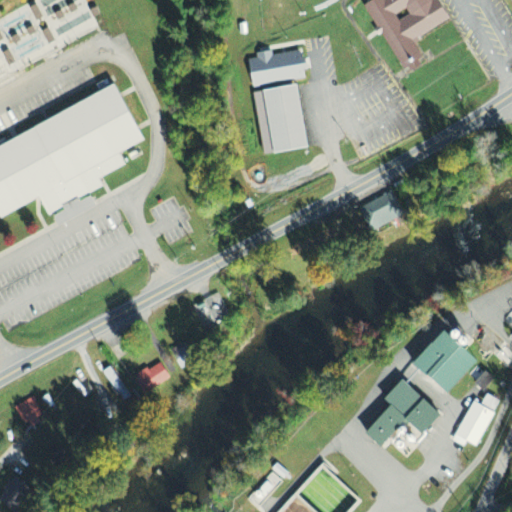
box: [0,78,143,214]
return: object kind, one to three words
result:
warehouse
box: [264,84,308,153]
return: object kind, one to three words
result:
building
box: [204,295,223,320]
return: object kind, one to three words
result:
house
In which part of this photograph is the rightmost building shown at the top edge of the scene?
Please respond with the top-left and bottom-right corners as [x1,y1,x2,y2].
[366,0,448,68]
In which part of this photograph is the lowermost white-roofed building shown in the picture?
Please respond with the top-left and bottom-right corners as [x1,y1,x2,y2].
[249,472,282,506]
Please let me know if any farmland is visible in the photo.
No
